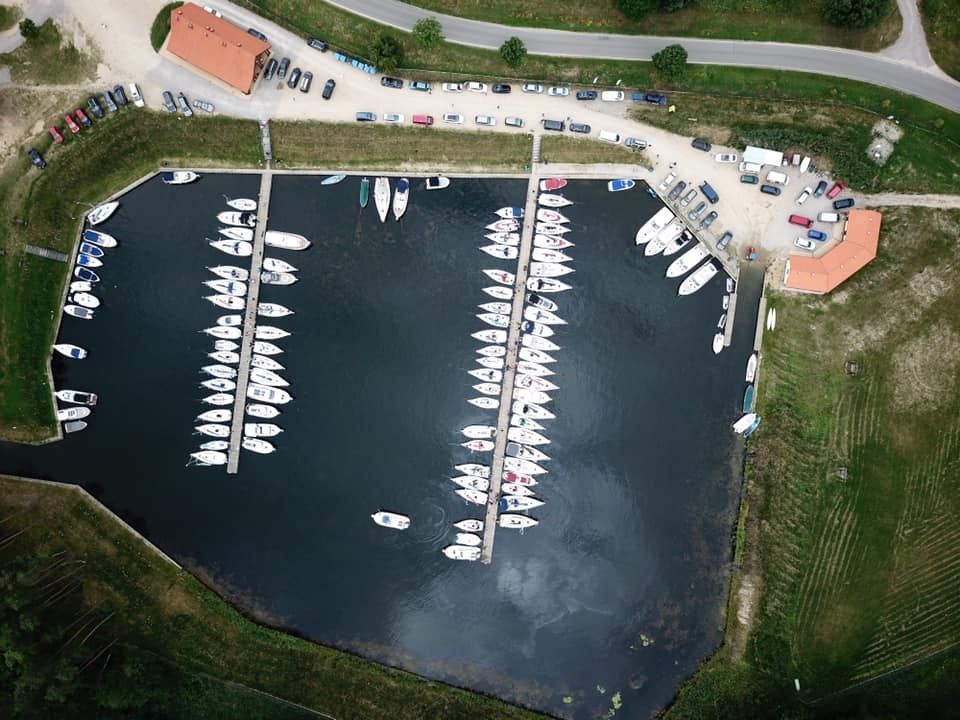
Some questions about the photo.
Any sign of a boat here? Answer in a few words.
Yes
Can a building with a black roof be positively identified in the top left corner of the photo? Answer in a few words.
No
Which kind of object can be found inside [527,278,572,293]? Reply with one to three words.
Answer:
boat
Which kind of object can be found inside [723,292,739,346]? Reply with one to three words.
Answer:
pier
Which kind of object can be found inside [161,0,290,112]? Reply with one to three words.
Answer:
building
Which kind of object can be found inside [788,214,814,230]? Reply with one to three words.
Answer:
vehicle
